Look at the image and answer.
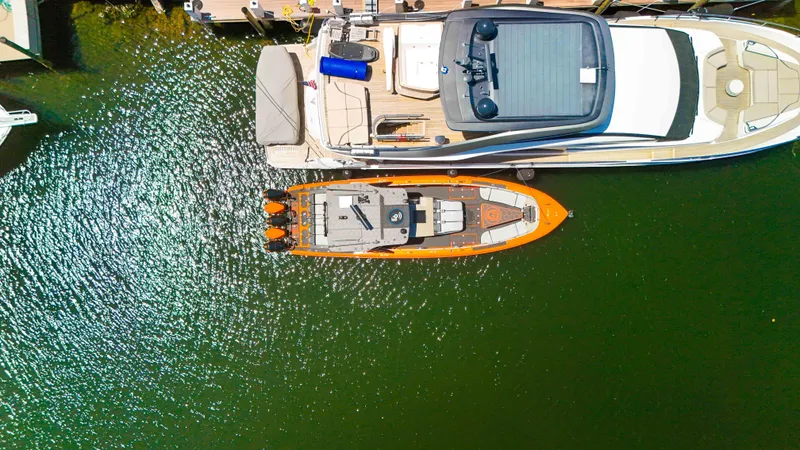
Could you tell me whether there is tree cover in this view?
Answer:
No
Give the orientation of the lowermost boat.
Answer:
horizontally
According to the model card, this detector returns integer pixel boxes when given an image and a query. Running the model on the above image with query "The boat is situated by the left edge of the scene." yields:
[0,104,39,148]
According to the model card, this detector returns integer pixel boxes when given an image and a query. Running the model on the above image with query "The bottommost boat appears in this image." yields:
[264,176,575,259]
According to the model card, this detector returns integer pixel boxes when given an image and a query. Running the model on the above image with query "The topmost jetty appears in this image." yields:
[188,0,800,25]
